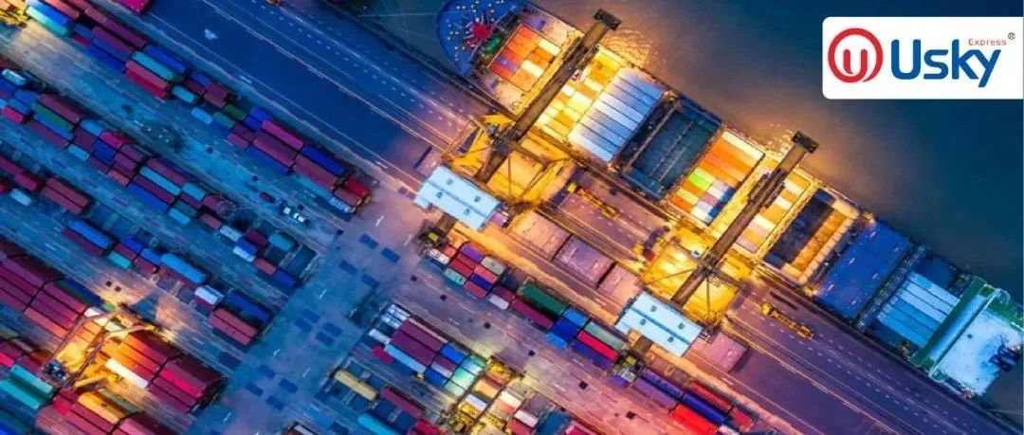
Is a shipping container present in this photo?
Yes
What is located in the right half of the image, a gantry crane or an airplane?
gantry crane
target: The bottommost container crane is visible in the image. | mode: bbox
[440,352,521,433]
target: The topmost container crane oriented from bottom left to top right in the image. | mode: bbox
[413,3,625,248]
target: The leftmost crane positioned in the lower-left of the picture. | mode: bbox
[51,310,137,388]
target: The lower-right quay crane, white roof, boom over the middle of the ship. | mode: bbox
[611,122,824,381]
